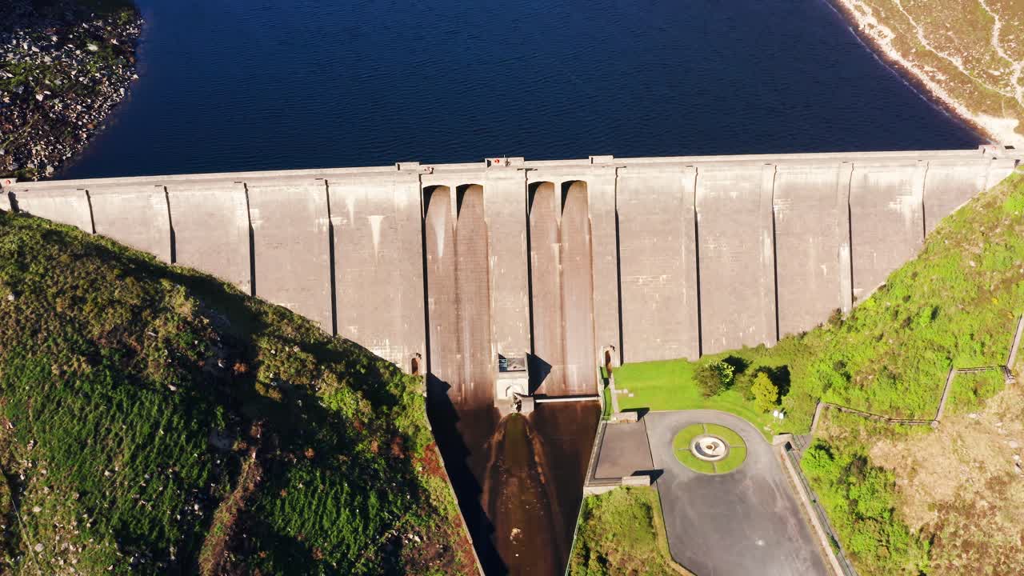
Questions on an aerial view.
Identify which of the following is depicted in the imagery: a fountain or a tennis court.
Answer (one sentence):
Looking from above, you can make out a fountain.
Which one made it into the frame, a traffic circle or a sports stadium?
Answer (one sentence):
There is a traffic circle in the scene.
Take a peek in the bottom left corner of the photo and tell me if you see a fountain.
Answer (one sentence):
No, no fountain appears in the bottom left corner of the photo.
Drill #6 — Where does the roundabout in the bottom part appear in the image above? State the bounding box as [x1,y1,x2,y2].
[674,423,748,476]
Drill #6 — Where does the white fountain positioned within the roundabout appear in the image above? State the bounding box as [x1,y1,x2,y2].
[691,434,728,461]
